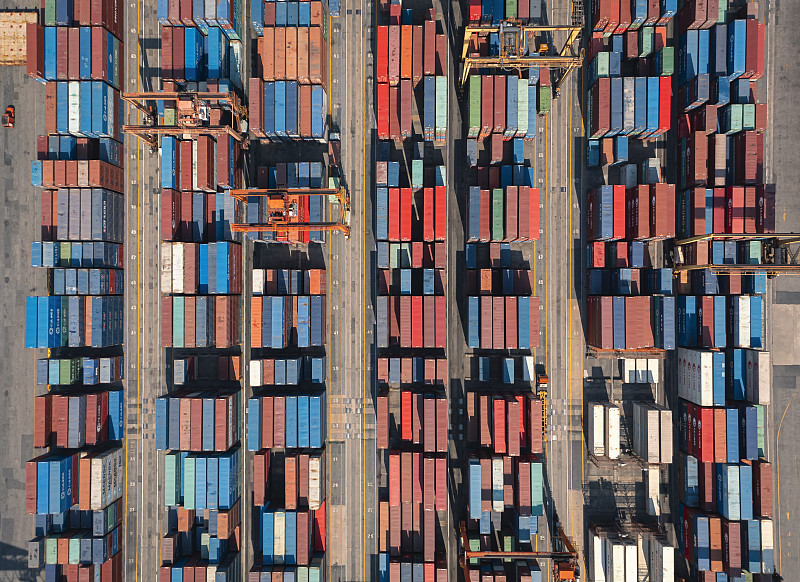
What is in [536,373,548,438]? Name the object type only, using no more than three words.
vehicle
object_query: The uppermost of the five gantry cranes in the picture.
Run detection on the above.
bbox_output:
[454,20,580,94]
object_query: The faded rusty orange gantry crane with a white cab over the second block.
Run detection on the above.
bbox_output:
[116,92,252,158]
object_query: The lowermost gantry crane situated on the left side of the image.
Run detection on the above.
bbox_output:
[228,187,357,242]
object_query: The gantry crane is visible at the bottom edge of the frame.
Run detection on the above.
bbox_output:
[454,516,583,582]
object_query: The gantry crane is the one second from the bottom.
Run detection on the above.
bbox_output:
[666,230,800,278]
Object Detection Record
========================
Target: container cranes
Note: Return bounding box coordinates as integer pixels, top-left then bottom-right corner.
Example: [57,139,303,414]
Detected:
[228,187,357,242]
[454,20,580,94]
[666,230,800,278]
[116,92,252,158]
[454,516,583,582]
